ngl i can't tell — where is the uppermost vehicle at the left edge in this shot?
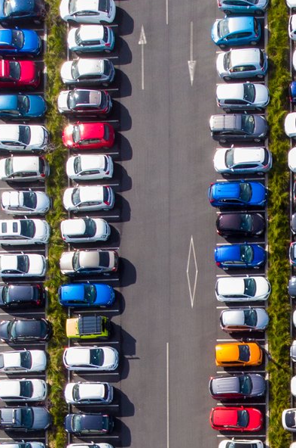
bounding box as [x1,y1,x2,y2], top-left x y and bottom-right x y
[0,0,46,30]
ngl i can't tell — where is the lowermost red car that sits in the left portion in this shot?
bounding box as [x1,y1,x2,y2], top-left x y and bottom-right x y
[64,123,116,152]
